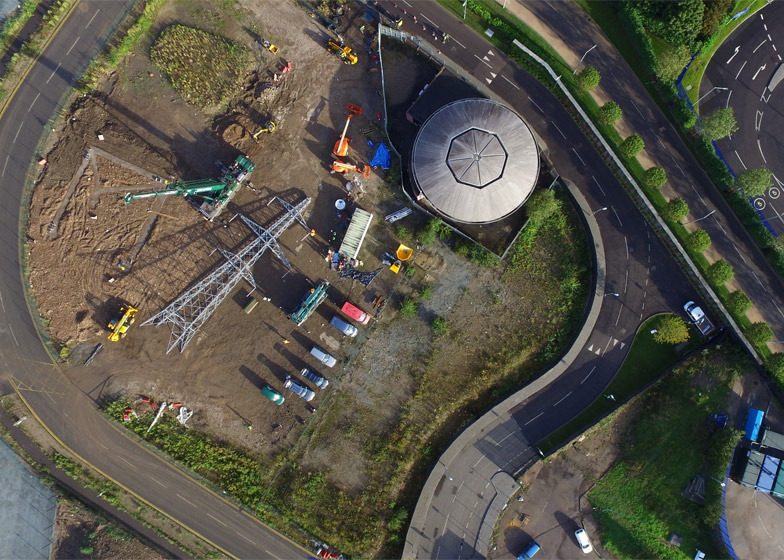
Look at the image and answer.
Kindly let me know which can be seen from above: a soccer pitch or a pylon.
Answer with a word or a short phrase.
pylon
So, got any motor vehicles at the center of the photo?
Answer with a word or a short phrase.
Yes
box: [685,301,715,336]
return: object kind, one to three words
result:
truck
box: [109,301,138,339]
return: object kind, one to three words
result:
work vehicle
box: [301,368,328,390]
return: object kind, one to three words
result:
car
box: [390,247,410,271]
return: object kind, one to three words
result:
vehicle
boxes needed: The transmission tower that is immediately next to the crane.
[135,195,312,356]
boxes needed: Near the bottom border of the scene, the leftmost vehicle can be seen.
[515,536,544,560]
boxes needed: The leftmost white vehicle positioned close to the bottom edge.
[573,527,593,555]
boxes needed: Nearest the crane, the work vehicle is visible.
[254,121,277,139]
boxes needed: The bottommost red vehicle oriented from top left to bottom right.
[341,301,370,323]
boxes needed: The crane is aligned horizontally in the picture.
[120,159,258,232]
